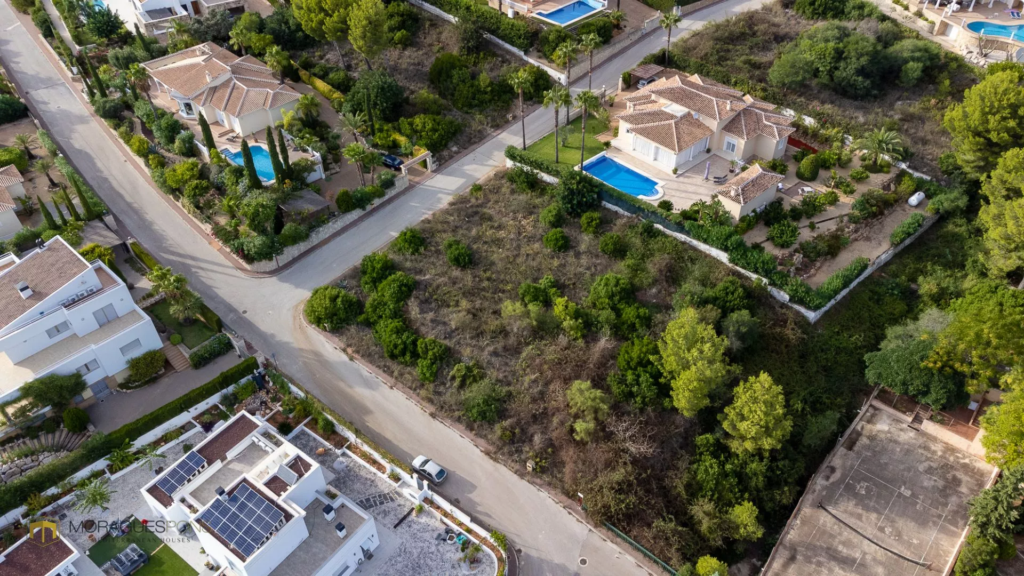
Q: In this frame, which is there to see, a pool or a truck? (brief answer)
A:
pool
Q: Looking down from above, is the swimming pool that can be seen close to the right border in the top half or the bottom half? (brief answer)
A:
top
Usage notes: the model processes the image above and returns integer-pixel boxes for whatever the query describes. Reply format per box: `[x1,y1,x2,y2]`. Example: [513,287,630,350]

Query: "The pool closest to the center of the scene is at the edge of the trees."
[579,153,662,199]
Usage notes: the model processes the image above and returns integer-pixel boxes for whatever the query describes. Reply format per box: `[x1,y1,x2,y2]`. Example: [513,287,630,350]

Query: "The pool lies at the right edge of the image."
[965,20,1024,43]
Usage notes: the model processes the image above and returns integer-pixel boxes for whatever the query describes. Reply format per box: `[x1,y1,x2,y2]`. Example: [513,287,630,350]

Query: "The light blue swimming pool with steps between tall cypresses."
[216,144,271,183]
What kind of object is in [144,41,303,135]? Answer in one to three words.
house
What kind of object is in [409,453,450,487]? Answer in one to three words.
car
